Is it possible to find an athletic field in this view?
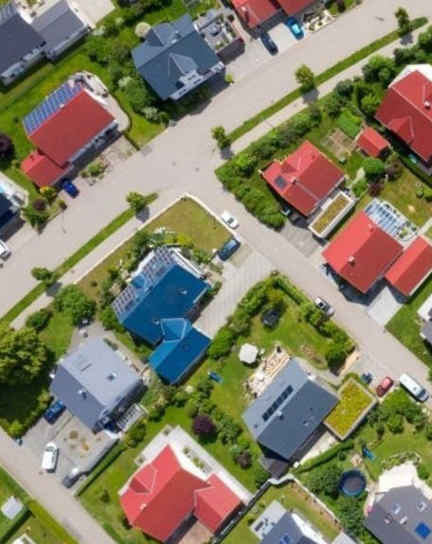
No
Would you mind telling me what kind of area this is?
residential area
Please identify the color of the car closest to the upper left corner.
blue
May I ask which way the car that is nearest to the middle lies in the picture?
on a diagonal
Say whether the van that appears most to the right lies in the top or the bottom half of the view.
bottom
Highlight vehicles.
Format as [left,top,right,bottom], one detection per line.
[60,177,82,197]
[220,209,241,229]
[59,465,84,491]
[314,298,335,317]
[217,238,240,260]
[260,33,278,53]
[40,442,58,471]
[44,401,66,422]
[374,375,395,397]
[285,17,304,37]
[396,371,430,403]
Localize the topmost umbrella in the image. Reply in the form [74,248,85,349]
[240,343,259,362]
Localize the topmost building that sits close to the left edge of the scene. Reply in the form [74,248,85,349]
[0,0,92,82]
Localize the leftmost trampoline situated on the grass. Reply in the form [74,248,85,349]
[259,309,278,326]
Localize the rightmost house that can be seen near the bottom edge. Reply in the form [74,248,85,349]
[368,480,432,544]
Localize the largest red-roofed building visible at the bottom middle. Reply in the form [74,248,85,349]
[120,445,245,542]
